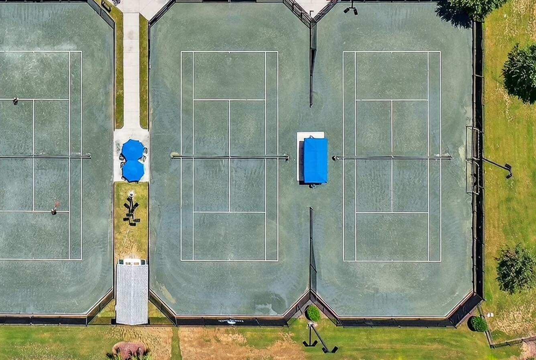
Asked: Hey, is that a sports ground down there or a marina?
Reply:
sports ground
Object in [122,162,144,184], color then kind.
blue umbrella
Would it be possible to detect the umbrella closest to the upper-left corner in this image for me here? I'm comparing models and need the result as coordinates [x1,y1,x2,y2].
[122,142,144,163]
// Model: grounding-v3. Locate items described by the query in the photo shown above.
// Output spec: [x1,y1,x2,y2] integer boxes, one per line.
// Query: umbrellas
[122,162,144,184]
[122,142,144,163]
